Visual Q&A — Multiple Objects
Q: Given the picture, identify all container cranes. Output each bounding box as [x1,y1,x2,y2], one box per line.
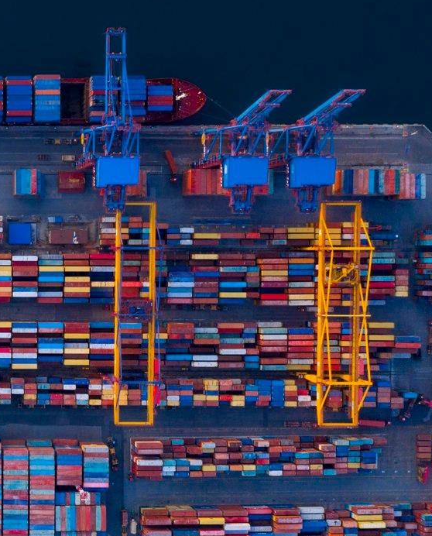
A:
[68,26,141,212]
[255,89,369,212]
[94,201,163,426]
[286,201,376,426]
[188,89,293,212]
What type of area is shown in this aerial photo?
port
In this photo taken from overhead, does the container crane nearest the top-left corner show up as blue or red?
blue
